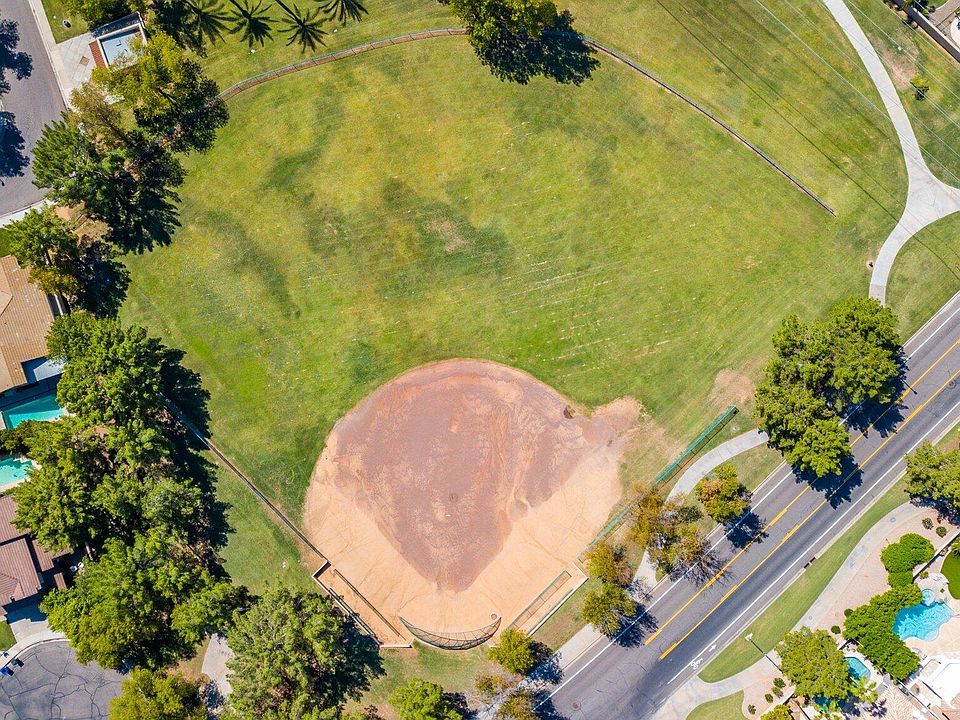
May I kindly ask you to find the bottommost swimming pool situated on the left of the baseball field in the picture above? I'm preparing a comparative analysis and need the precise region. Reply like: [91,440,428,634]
[0,454,35,488]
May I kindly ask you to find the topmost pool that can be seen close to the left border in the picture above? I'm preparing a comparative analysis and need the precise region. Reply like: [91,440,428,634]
[0,390,65,430]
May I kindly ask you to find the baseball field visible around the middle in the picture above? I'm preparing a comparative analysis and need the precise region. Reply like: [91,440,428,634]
[121,32,832,650]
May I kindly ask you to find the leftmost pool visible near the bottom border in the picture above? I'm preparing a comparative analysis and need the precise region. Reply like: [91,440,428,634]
[810,652,873,718]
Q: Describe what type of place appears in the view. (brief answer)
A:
sports ground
